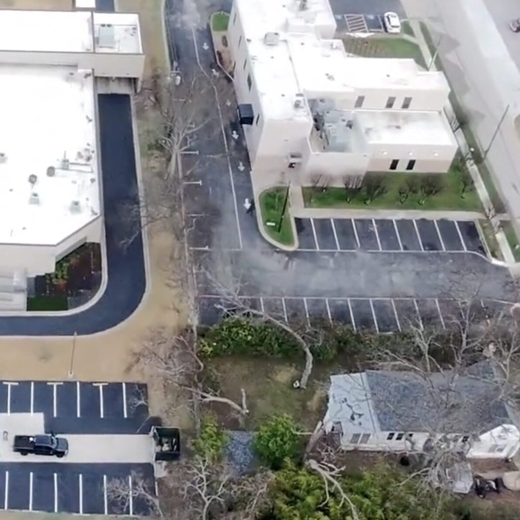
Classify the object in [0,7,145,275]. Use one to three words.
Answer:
building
